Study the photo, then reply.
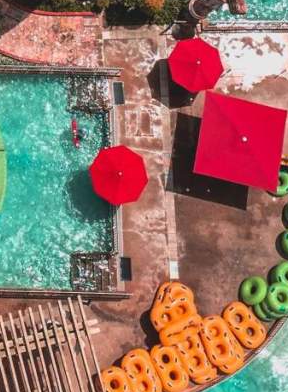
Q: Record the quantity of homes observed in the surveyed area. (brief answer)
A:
zero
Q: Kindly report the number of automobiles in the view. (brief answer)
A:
0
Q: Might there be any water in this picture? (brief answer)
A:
Yes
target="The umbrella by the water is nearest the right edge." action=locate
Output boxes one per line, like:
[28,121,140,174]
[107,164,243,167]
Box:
[167,37,223,93]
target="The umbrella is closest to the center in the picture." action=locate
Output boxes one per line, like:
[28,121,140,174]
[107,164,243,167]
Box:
[88,145,149,205]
